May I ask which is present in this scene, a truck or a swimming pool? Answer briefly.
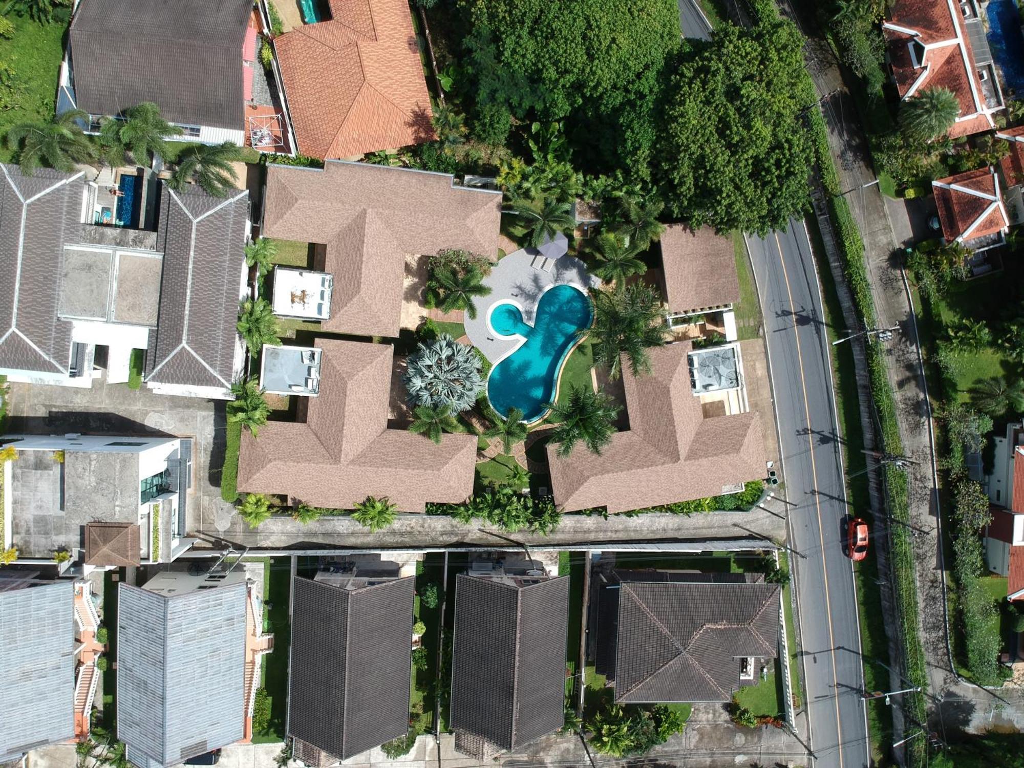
swimming pool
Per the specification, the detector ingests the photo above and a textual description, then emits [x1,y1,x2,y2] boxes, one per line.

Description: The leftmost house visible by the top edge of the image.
[57,0,256,149]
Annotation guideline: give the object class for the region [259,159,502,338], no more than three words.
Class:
house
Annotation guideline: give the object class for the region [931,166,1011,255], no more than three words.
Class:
house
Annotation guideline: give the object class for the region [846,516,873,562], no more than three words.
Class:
car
